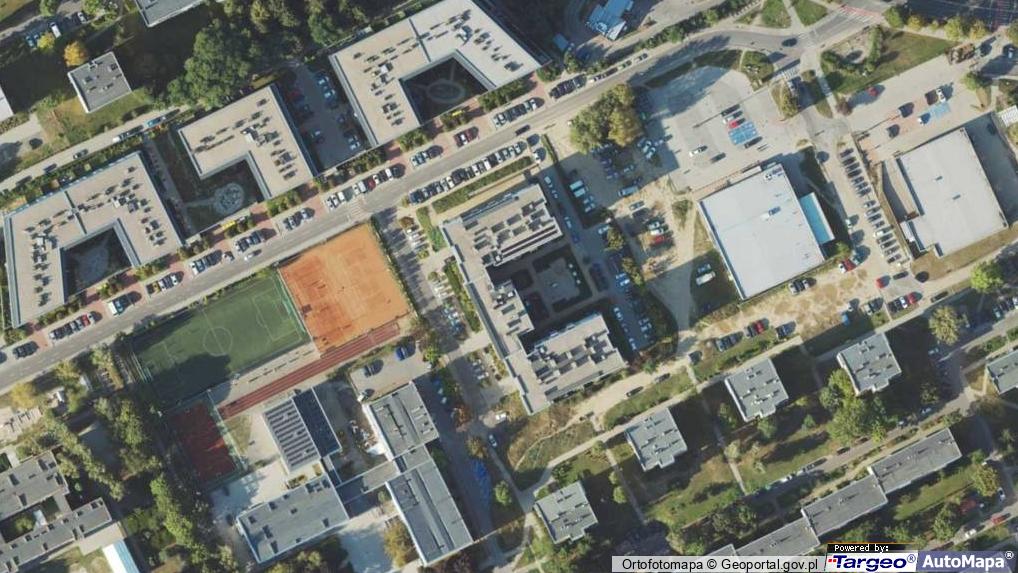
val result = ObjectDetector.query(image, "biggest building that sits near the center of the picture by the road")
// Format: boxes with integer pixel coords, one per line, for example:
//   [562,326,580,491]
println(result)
[435,183,629,415]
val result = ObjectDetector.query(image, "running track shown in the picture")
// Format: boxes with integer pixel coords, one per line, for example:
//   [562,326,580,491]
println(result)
[219,317,413,419]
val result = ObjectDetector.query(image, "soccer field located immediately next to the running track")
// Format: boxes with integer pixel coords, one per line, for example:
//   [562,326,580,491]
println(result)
[132,270,312,409]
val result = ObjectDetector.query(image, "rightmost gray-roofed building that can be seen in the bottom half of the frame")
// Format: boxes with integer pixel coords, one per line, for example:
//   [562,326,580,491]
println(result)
[981,346,1018,407]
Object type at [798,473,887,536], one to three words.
building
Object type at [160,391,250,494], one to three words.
basketball court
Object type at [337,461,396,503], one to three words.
building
